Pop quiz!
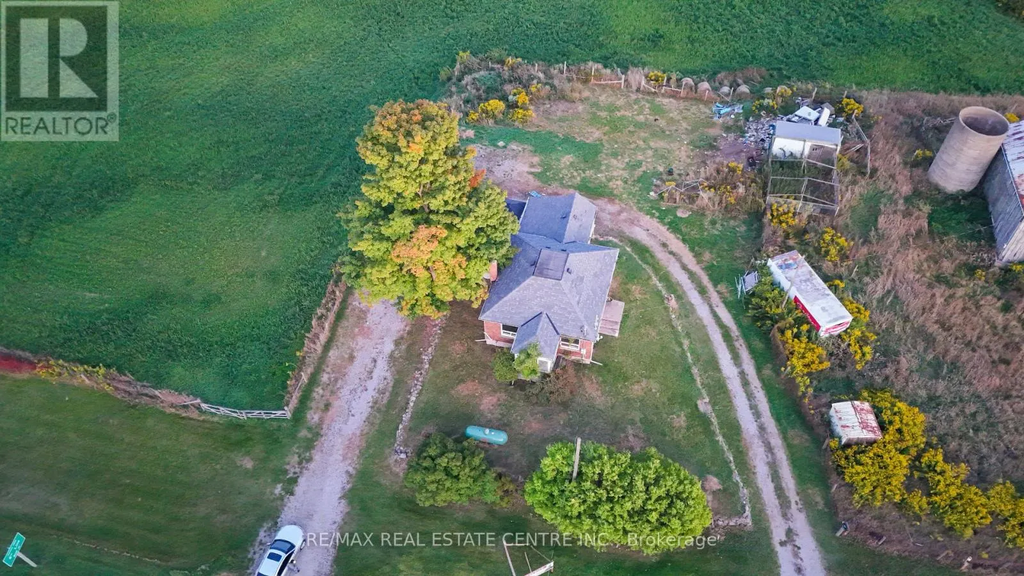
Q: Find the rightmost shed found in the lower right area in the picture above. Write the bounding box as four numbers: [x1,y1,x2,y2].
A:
[823,401,881,453]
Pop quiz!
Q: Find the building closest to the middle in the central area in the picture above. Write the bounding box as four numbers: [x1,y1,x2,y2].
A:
[475,192,624,380]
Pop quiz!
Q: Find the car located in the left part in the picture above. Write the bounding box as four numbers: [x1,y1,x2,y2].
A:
[251,526,303,576]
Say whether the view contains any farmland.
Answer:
Yes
